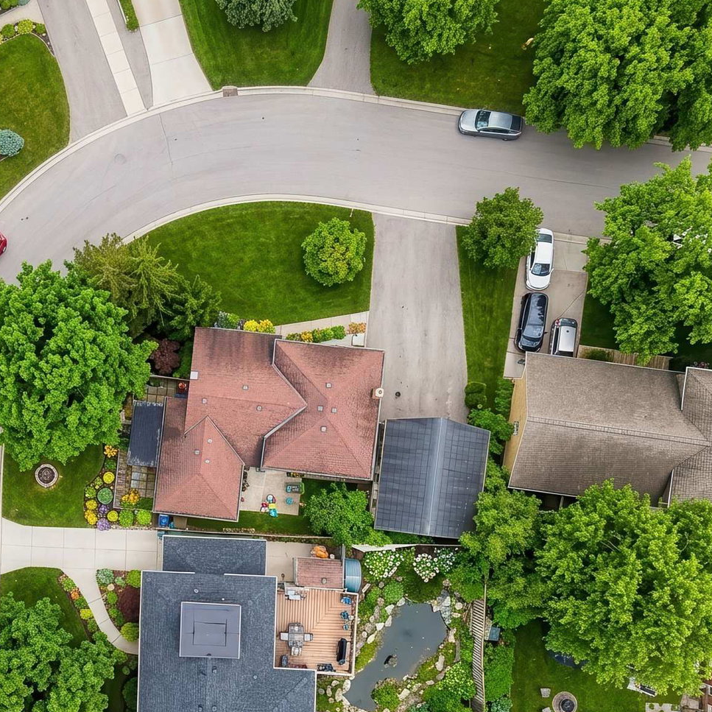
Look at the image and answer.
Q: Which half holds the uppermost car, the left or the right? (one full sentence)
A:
The uppermost car appears in the right half of the scene.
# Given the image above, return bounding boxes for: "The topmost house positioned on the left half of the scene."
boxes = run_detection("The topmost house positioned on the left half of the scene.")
[153,327,386,523]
